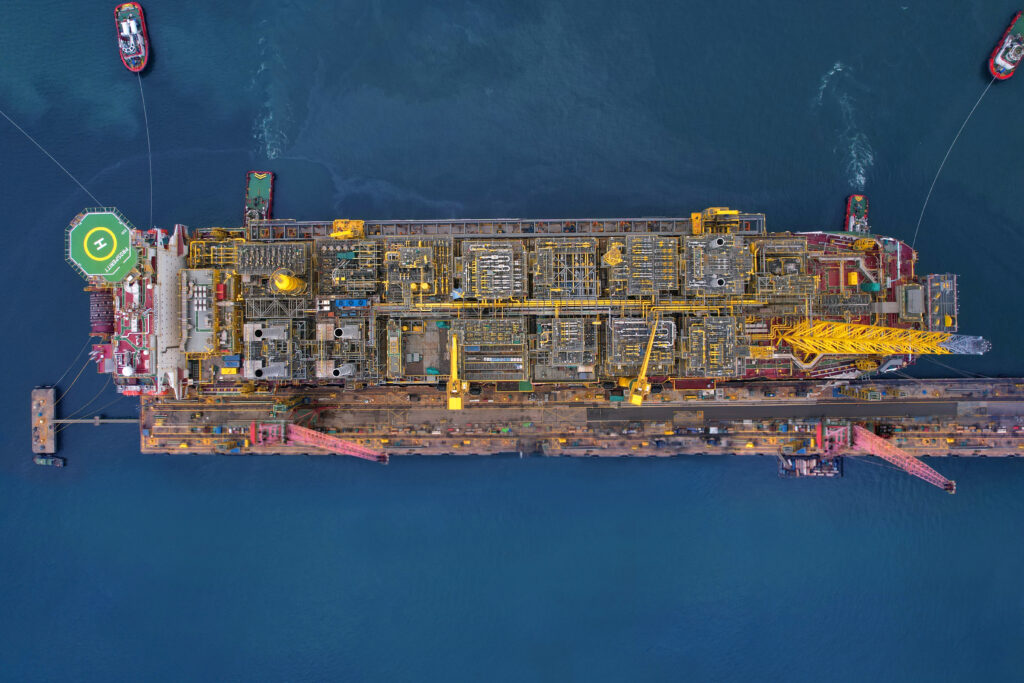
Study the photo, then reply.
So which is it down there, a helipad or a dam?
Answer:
helipad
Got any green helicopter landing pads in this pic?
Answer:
Yes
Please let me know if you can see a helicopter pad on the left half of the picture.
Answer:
Yes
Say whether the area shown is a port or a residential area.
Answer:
port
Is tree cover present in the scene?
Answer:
No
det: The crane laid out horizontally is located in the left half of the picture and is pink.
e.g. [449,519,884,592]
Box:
[250,419,396,465]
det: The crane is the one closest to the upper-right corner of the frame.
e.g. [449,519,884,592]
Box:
[688,207,739,235]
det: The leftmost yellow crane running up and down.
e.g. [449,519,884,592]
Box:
[447,333,470,409]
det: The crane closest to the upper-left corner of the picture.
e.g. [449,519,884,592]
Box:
[330,219,365,239]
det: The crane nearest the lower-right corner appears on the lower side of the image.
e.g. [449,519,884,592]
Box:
[814,421,955,494]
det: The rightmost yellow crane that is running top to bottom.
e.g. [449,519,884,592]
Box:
[628,319,659,405]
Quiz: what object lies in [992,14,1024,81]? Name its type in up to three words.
boat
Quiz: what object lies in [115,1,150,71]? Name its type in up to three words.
boat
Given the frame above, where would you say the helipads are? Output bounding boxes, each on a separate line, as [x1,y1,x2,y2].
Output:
[65,208,139,282]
